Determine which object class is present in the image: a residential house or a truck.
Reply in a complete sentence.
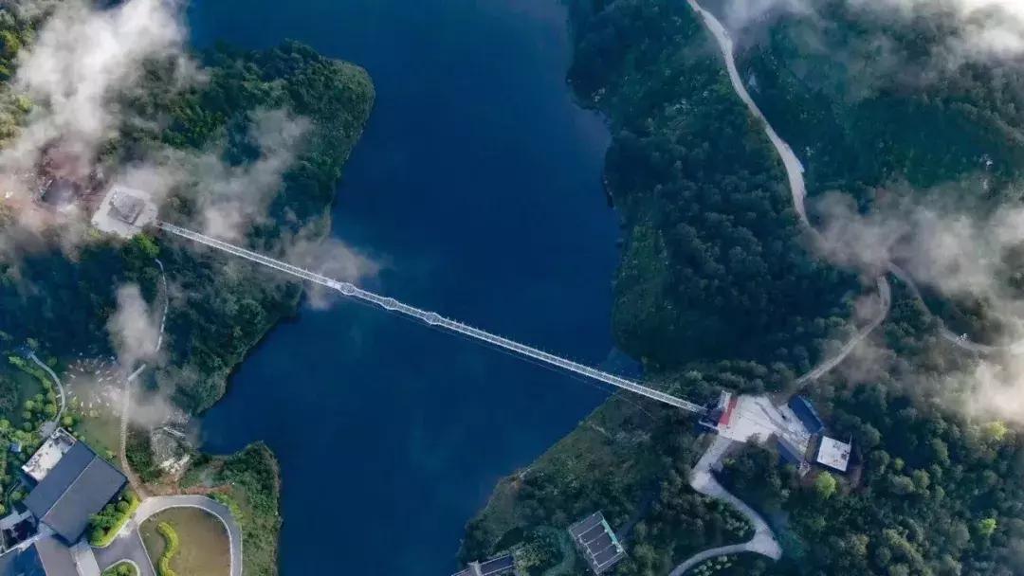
Of the two, only a residential house appears.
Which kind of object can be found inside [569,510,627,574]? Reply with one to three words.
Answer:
building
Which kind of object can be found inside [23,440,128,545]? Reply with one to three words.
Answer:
building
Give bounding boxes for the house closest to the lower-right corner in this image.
[816,433,852,472]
